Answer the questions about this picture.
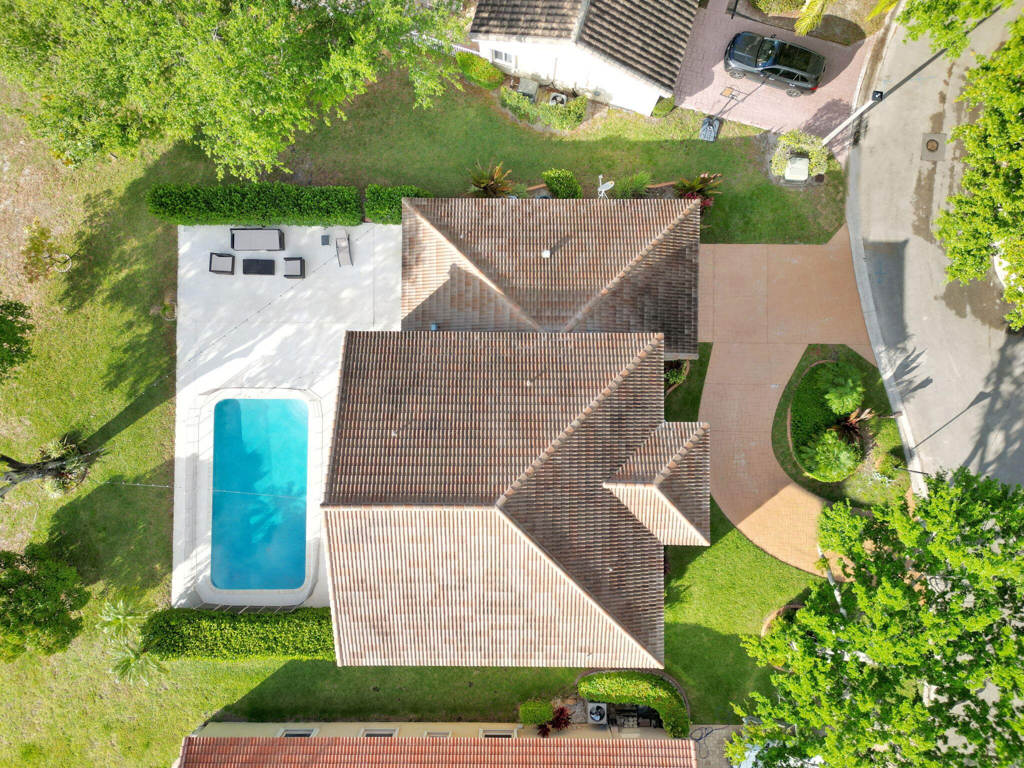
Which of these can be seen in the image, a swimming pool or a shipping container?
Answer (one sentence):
Visible in the photo is a swimming pool.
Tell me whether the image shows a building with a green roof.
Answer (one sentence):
No, no building with a green roof can be seen from above.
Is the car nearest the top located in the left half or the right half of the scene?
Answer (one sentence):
You can find the car nearest the top on the right side of the picture.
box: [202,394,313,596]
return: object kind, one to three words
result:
swimming pool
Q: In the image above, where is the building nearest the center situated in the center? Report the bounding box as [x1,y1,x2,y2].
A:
[319,196,714,671]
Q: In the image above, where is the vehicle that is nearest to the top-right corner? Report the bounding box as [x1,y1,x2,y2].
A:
[722,35,828,101]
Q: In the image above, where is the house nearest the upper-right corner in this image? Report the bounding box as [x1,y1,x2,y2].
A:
[468,0,702,110]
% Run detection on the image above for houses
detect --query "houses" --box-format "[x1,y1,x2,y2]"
[176,724,702,768]
[468,0,702,110]
[319,196,714,671]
